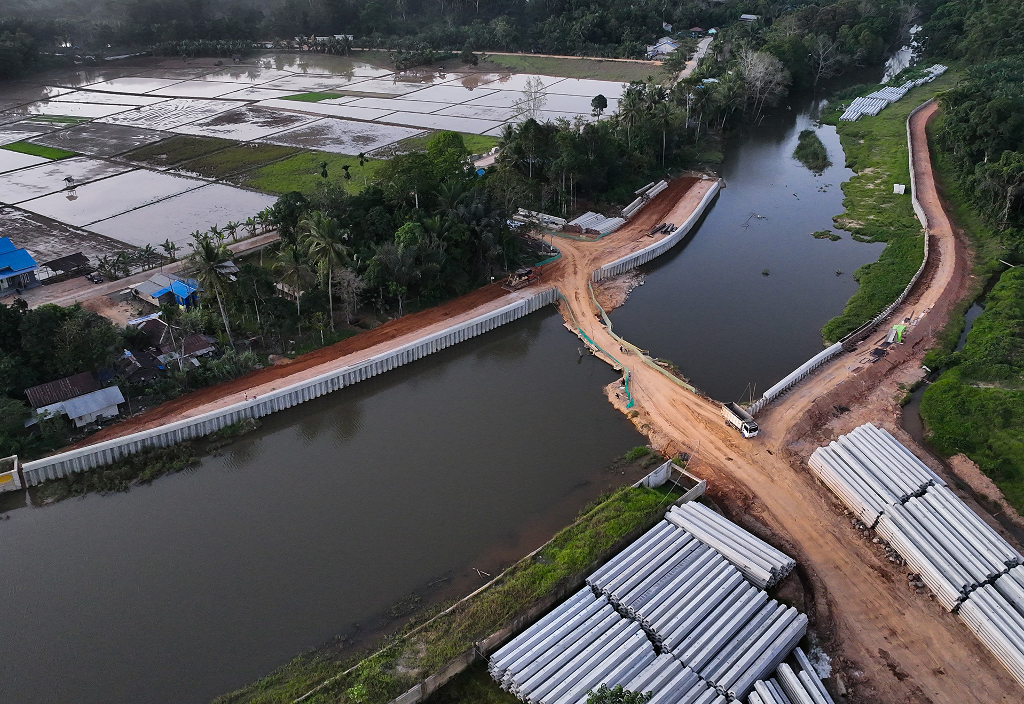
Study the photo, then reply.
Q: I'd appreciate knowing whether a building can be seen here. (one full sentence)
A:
Yes, there's a building here.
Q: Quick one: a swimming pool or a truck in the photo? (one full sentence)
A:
Of the two, only a truck appears.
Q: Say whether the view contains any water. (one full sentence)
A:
Yes, water can be seen from above here.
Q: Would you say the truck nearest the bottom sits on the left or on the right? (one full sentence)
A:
You can find the truck nearest the bottom on the right side of the picture.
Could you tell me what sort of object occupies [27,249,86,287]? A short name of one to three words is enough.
building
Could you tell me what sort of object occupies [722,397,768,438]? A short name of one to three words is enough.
truck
